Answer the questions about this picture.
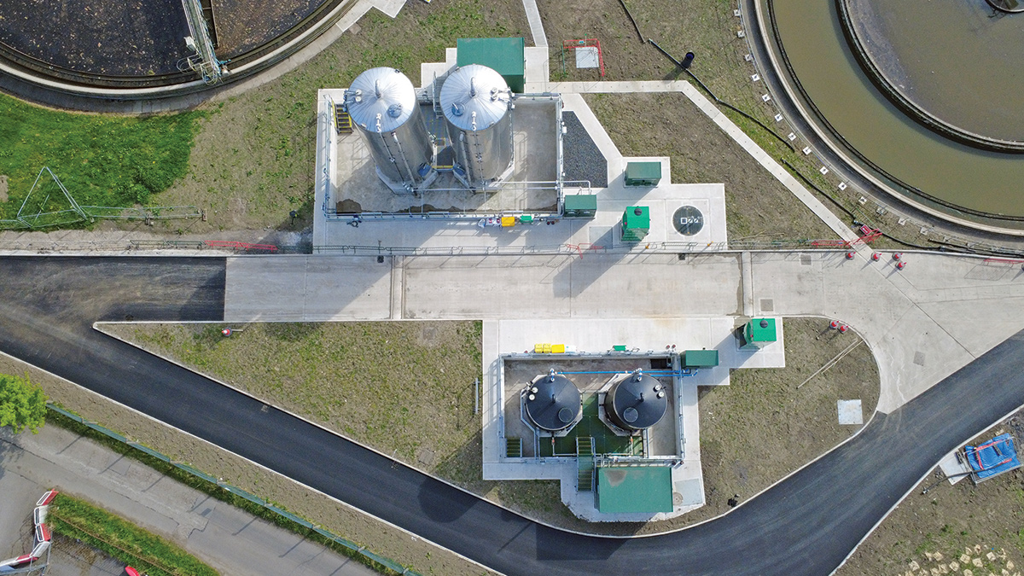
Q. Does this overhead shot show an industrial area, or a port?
industrial area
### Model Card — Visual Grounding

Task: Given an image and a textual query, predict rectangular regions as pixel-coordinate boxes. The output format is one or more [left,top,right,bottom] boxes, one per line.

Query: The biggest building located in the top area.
[457,36,526,91]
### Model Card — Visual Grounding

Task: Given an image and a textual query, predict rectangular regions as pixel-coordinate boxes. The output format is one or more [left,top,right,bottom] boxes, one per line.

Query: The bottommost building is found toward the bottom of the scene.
[595,467,673,514]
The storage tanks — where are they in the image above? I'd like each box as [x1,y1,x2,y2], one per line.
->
[523,367,583,446]
[0,0,374,112]
[739,0,1024,250]
[341,68,438,190]
[440,65,517,188]
[605,368,671,444]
